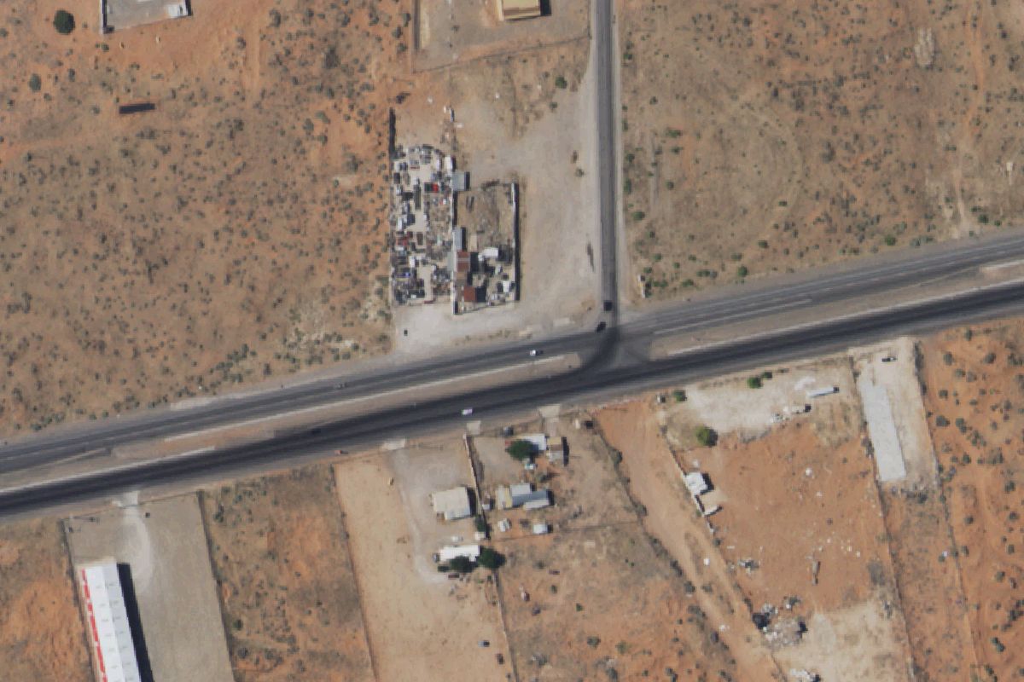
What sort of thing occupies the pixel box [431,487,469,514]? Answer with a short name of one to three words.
building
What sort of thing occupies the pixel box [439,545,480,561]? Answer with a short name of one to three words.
house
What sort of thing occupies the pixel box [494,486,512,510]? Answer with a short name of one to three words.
shed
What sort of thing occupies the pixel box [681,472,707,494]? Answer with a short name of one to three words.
house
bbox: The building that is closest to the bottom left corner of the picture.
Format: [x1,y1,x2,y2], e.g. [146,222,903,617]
[82,560,142,682]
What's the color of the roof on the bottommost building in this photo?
white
